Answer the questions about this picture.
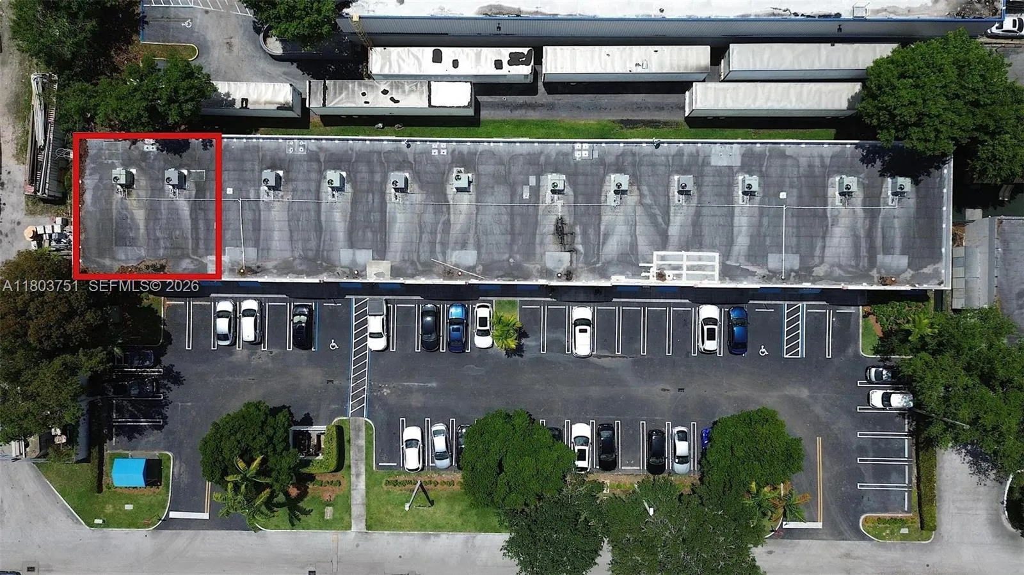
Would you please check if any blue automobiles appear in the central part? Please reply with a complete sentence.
Yes, a blue automobile is visible in the central part.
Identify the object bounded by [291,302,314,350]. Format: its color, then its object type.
black car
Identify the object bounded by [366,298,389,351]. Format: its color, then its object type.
white truck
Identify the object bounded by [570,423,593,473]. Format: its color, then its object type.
white car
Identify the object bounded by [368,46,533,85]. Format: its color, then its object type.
white trailer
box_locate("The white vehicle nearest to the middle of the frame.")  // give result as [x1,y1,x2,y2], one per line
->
[472,303,493,349]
